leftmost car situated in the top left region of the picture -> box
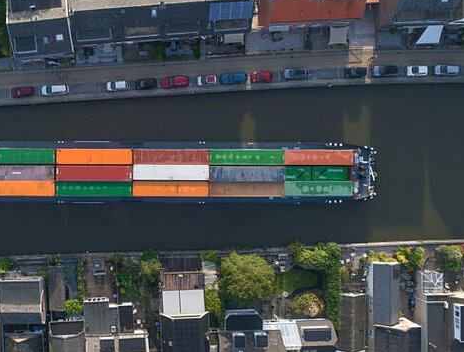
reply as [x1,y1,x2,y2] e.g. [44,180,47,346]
[11,86,34,98]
